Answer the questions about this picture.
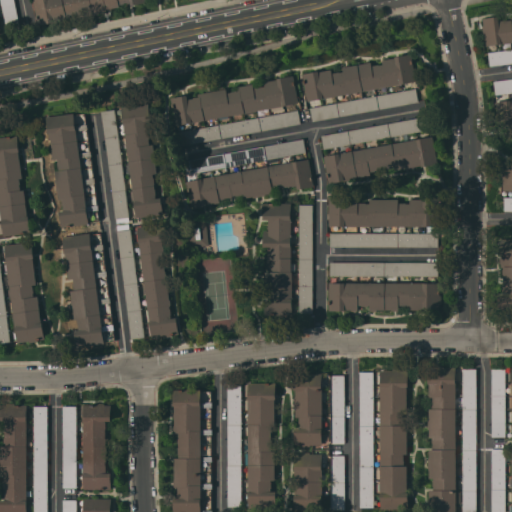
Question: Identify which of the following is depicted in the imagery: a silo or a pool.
pool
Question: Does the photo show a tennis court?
Yes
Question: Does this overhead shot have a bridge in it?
No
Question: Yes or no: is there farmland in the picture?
No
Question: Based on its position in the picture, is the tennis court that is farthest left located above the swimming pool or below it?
below it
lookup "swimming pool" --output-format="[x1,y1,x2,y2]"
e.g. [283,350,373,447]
[210,214,248,258]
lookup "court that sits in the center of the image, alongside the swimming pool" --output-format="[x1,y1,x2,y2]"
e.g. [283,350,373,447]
[202,258,239,334]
